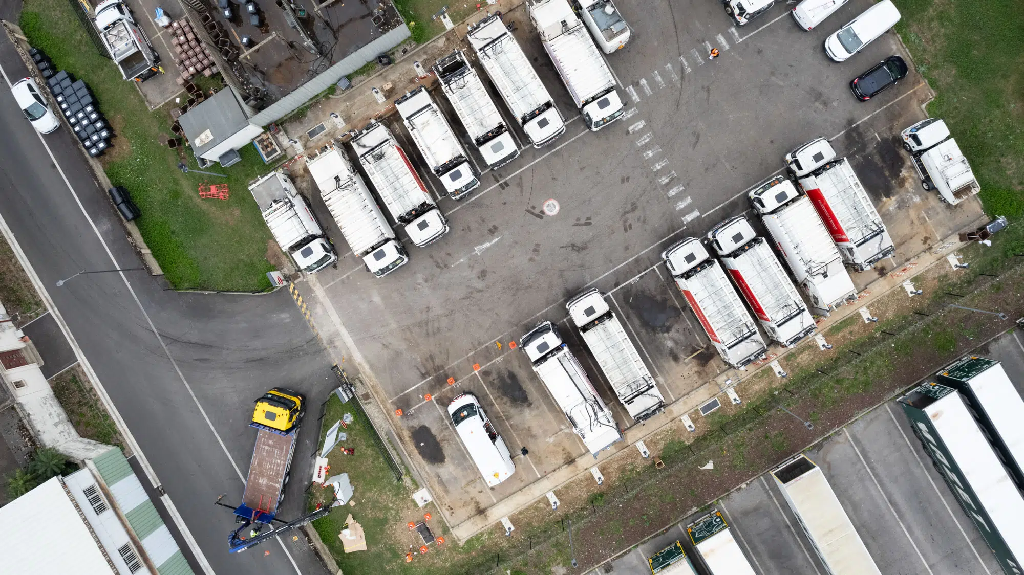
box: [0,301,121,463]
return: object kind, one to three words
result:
house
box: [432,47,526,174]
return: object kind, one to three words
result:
truck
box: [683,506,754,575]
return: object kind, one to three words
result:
trailer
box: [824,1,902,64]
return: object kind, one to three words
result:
van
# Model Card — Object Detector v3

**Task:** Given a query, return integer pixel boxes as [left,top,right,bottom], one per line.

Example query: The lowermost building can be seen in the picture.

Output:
[0,447,195,575]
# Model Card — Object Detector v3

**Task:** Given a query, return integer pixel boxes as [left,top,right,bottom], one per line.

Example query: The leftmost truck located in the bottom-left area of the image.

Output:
[212,387,342,554]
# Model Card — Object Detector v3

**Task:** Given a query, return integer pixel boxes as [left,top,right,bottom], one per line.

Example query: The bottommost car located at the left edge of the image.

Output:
[8,76,63,138]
